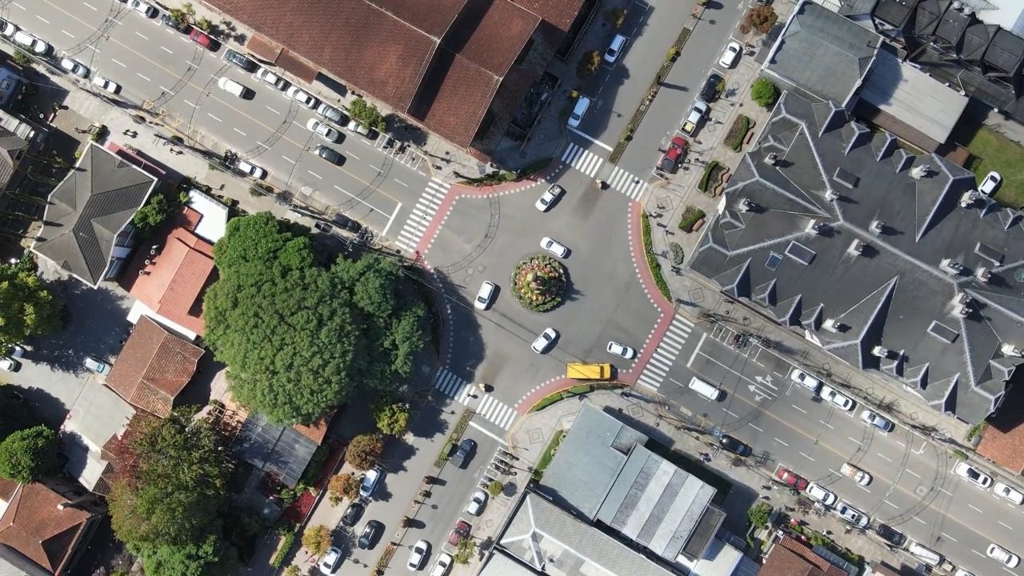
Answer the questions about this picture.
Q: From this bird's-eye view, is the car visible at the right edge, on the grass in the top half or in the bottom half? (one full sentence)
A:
You can find the car visible at the right edge, on the grass in the top half.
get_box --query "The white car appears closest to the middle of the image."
[474,280,496,310]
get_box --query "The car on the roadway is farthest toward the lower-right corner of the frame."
[985,543,1015,566]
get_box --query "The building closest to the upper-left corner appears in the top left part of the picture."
[0,64,38,116]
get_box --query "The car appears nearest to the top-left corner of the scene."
[0,16,21,38]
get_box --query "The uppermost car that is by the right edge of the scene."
[977,169,1001,194]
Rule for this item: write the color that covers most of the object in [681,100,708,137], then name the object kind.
white truck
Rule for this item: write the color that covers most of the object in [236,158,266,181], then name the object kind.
white car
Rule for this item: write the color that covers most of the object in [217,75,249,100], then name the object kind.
white vehicle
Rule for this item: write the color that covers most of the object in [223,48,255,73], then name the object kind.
gray car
